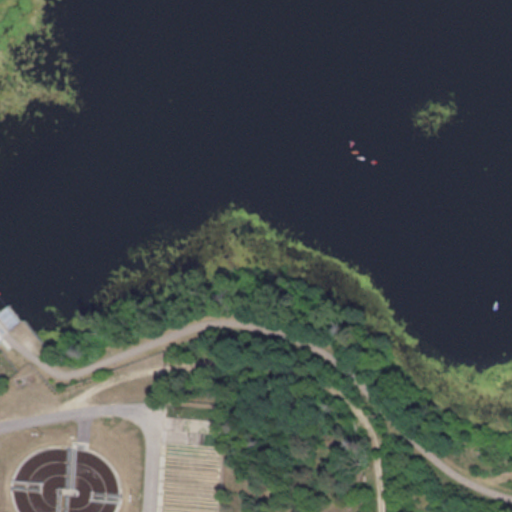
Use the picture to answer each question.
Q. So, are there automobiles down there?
No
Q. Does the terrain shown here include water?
Yes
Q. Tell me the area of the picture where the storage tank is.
bottom left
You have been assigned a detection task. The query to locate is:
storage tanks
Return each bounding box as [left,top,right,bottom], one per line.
[12,442,122,512]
